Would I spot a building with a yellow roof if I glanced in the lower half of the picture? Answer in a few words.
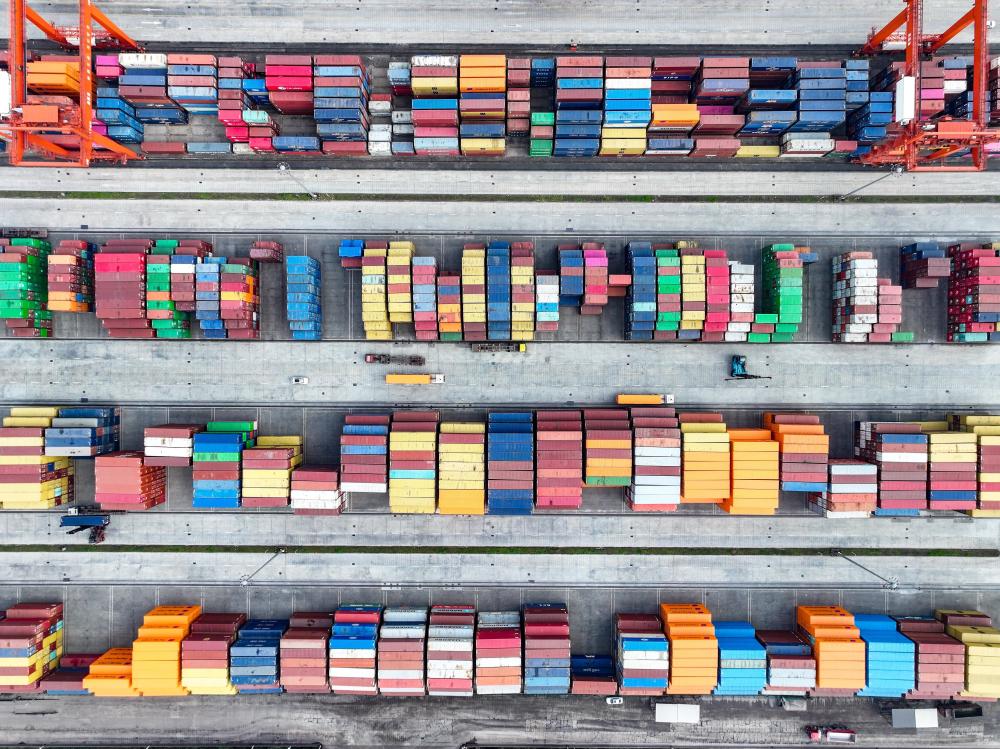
No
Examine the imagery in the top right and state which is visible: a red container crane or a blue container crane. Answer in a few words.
red container crane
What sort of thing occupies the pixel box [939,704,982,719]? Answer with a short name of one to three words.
vehicle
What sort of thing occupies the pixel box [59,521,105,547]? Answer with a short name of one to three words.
work vehicle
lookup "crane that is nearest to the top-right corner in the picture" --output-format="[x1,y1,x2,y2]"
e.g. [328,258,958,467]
[849,0,1000,168]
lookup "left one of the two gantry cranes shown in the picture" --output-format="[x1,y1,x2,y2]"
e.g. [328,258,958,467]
[0,0,147,163]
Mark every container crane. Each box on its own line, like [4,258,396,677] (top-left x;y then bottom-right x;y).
[0,0,147,163]
[849,0,1000,168]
